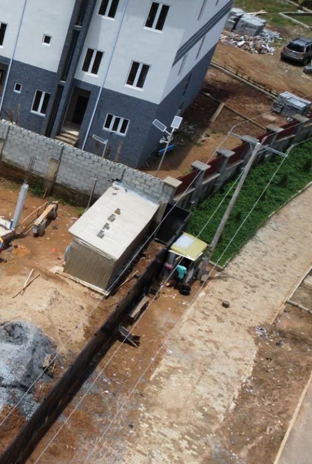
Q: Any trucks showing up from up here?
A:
No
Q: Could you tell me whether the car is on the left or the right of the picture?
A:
right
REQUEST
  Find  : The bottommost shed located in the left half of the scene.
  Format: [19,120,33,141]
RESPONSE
[63,185,158,295]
